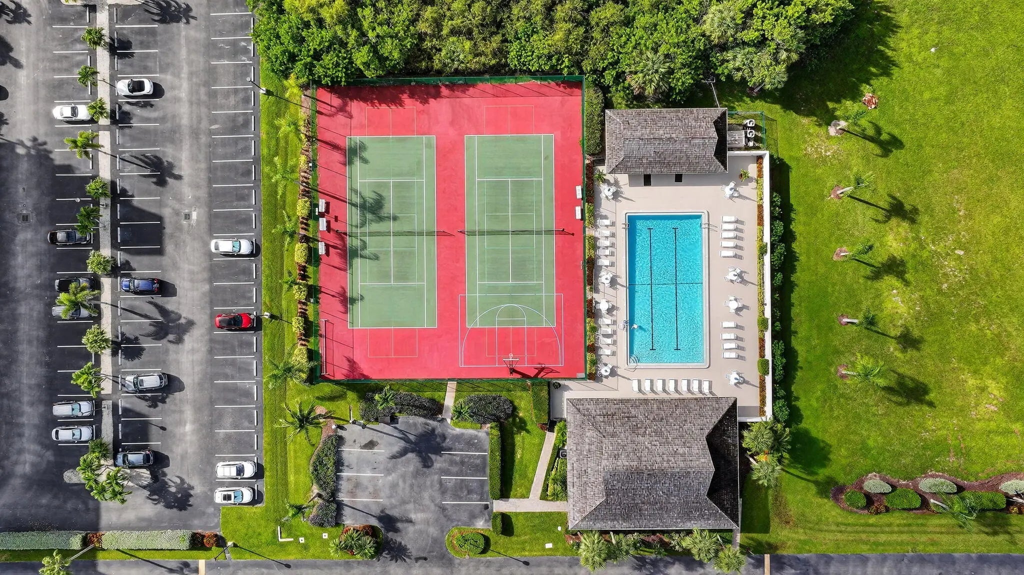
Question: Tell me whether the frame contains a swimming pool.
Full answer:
Yes, you can see a swimming pool in this photo.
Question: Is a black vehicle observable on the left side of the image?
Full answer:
Yes, you'll find a black vehicle on the left side of the image.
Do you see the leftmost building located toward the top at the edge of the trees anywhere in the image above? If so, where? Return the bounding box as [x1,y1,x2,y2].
[605,107,729,174]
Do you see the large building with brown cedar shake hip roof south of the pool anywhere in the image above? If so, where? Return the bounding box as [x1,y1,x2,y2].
[567,397,739,530]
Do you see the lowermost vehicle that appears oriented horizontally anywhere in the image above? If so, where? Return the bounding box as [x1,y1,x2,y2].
[214,486,254,505]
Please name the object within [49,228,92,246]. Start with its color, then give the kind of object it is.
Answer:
black car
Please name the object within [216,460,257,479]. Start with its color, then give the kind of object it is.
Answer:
white car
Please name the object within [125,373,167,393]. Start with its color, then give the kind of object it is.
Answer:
gray car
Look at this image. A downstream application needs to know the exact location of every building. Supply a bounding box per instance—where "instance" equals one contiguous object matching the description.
[605,107,729,174]
[567,397,739,530]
